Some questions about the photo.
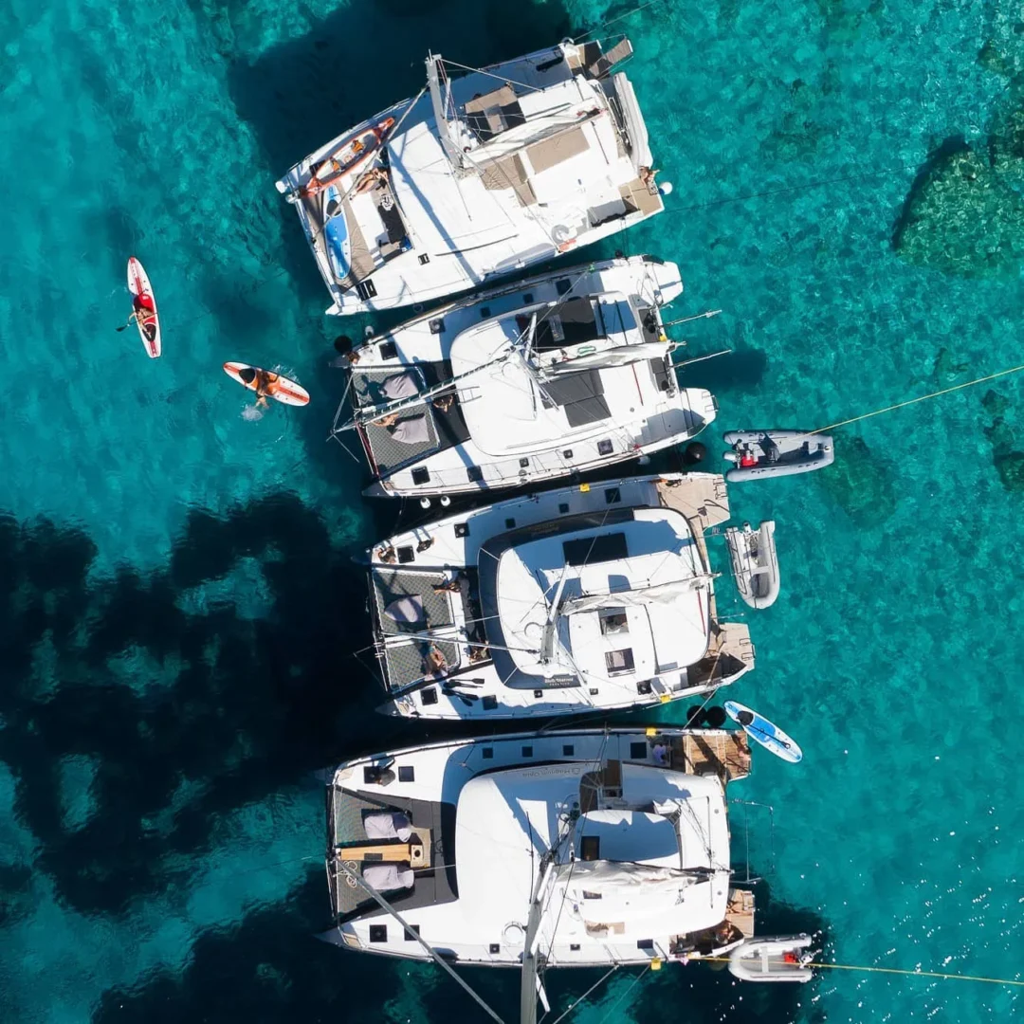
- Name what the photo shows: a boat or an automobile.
boat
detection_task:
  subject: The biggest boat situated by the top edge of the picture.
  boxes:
[272,34,664,317]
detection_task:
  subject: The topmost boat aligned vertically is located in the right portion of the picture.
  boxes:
[612,69,655,183]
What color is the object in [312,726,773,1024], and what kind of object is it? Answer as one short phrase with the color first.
white boat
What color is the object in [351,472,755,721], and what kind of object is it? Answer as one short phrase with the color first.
white boat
